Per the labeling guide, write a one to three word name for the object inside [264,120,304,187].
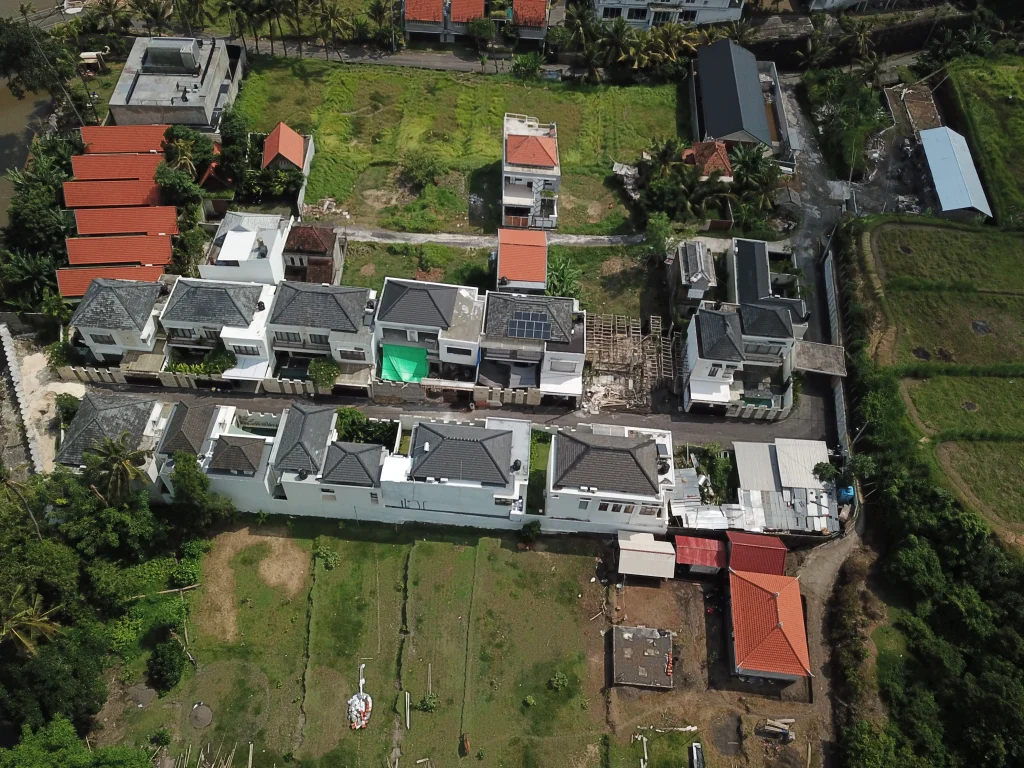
building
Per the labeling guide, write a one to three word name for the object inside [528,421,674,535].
house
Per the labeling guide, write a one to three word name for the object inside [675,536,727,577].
shed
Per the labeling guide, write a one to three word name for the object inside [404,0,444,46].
house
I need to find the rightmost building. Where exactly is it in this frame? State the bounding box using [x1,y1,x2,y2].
[915,126,992,229]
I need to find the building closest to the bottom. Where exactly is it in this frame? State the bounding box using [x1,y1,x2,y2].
[727,565,817,694]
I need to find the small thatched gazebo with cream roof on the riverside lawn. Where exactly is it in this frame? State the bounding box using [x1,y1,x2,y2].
[76,48,105,69]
